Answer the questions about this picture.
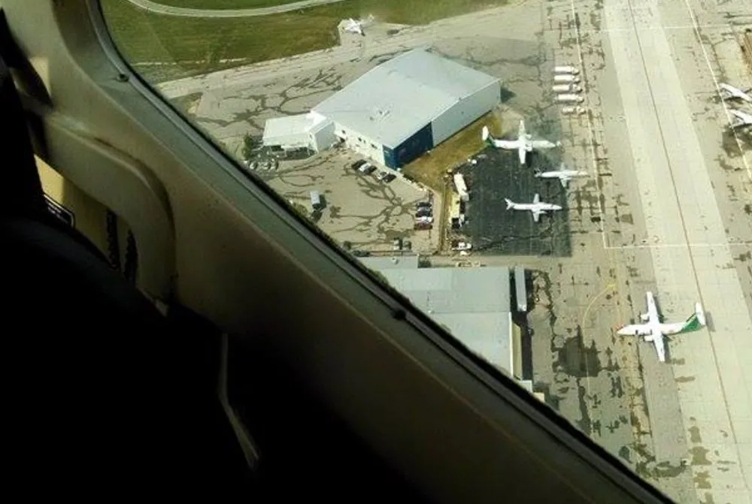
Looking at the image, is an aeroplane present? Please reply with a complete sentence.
Yes, the image includes an aeroplane.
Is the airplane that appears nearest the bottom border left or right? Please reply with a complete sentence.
It is on the right.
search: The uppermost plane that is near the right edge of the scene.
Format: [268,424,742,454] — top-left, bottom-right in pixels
[719,81,752,103]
